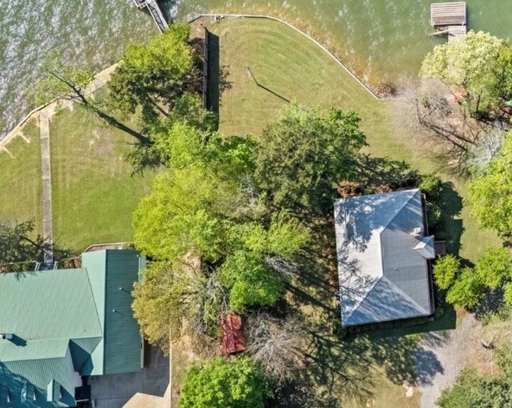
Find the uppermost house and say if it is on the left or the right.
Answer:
right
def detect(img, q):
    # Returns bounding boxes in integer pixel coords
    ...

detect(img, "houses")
[334,188,441,326]
[0,249,148,408]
